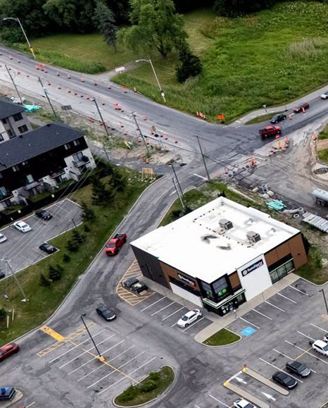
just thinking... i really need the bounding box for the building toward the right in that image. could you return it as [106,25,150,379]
[132,196,308,317]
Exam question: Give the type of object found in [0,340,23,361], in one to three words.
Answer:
car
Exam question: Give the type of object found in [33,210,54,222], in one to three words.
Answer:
vehicle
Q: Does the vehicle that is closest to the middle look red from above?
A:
Yes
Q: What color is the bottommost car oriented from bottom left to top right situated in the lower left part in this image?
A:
red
